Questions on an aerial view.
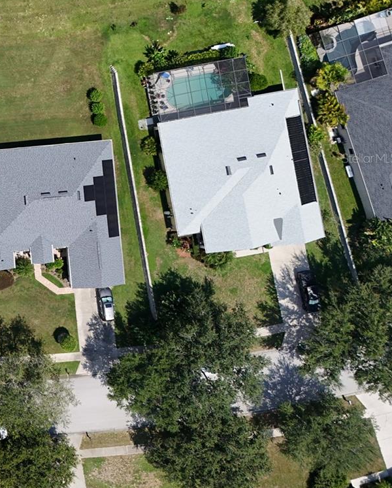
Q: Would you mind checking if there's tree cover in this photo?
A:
Yes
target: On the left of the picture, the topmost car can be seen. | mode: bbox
[98,288,115,324]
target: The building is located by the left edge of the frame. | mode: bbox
[0,139,126,289]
